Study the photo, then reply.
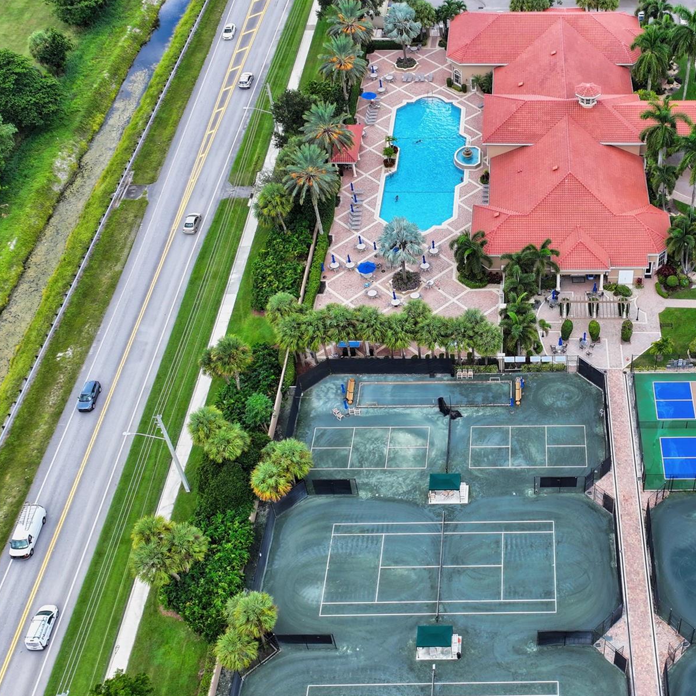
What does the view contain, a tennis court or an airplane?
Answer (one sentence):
This aerial view contains a tennis court.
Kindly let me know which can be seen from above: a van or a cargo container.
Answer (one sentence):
This aerial view contains a van.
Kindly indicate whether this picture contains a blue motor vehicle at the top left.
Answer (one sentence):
No, no blue motor vehicle appears at the top left.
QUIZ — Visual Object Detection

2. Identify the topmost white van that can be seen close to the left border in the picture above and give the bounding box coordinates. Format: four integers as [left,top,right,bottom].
[11,498,47,553]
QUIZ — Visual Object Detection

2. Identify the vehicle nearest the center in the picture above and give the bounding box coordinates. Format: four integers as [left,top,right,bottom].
[182,211,202,234]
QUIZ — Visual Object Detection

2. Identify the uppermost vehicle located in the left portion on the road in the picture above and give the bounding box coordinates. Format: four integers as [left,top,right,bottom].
[222,23,236,39]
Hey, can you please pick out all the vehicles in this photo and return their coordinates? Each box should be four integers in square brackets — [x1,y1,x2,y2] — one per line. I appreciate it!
[11,498,47,553]
[238,72,255,88]
[23,603,60,649]
[77,378,103,411]
[182,211,202,234]
[222,23,236,39]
